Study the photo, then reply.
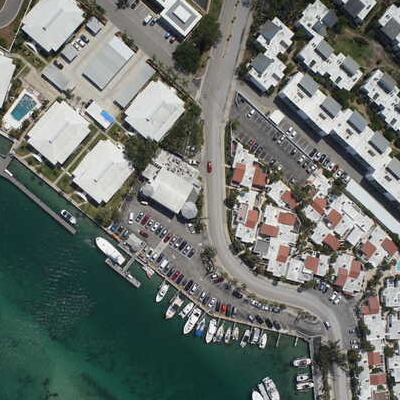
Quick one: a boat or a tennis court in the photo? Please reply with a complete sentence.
The image shows a boat.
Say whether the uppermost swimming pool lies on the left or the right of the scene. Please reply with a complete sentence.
The uppermost swimming pool is on the left side of the image.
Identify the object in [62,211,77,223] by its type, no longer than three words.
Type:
boat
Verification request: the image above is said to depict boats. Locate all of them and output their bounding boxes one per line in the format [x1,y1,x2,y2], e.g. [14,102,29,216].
[225,327,232,345]
[293,358,314,367]
[196,319,206,338]
[185,307,203,335]
[234,327,240,342]
[180,303,193,319]
[62,211,77,223]
[142,265,151,277]
[157,282,170,301]
[297,375,312,382]
[297,382,316,389]
[263,376,280,400]
[215,323,225,344]
[96,237,126,267]
[241,329,251,349]
[252,327,261,345]
[166,293,184,319]
[260,333,268,351]
[207,317,218,344]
